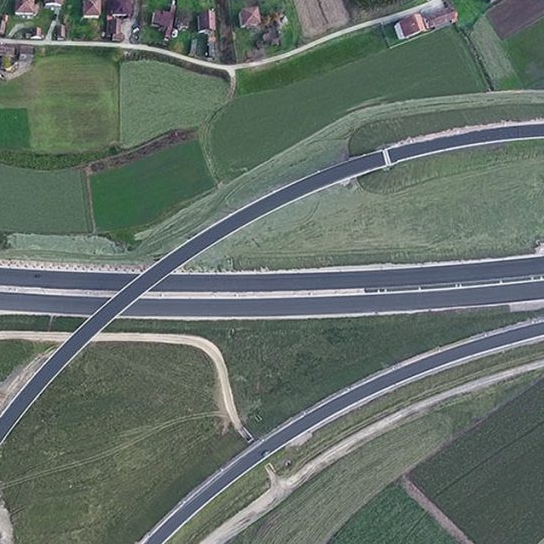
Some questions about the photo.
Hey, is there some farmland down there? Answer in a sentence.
Yes, farmland can be seen from above here.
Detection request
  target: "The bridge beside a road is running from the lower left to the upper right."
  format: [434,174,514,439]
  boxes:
[0,150,388,444]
